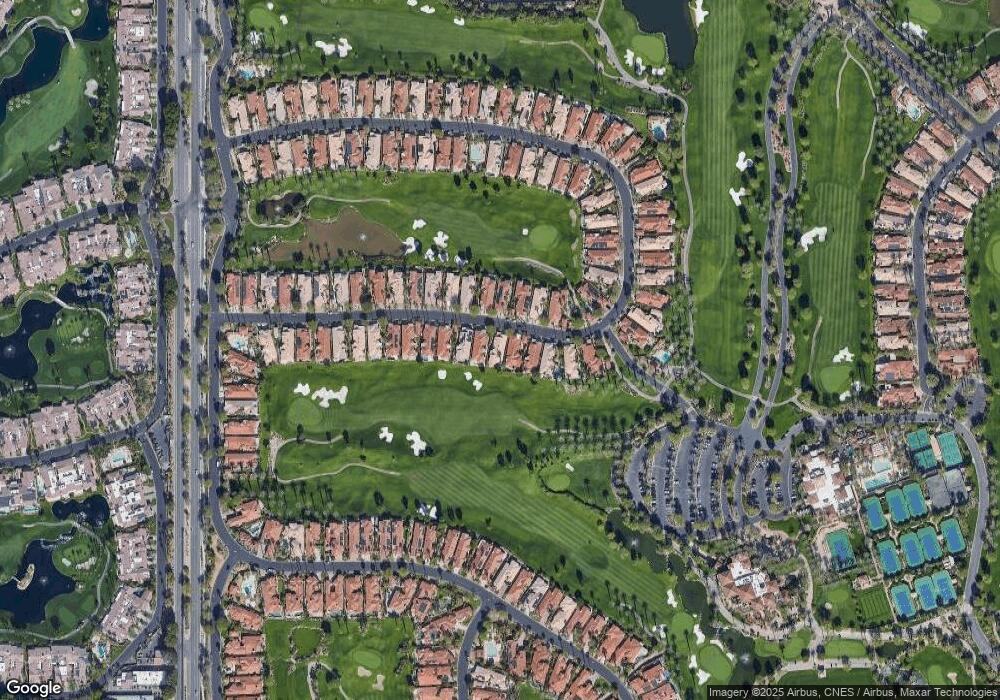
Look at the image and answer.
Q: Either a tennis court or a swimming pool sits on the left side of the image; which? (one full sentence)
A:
The feature located on the left side of the image is a swimming pool.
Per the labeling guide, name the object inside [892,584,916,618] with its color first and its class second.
blue tennis court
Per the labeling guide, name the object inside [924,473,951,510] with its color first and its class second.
gray tennis court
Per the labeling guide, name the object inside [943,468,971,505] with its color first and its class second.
gray tennis court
